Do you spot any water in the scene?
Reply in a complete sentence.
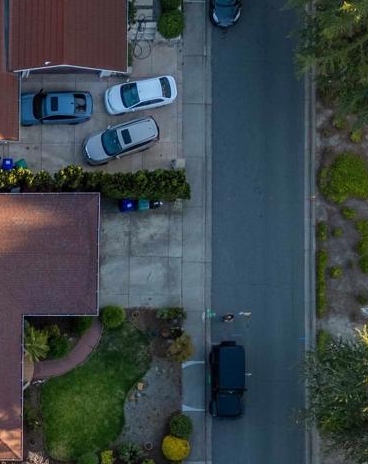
No, the scene doesn't show any water.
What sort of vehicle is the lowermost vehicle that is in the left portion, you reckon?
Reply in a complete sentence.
I'd say the lowermost vehicle that is in the left portion is a car.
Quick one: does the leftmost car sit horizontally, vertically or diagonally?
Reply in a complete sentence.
Seen from above, the leftmost car lies horizontally.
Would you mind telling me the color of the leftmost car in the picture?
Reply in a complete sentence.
From above, the leftmost car appears blue.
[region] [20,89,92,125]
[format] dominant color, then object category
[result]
blue car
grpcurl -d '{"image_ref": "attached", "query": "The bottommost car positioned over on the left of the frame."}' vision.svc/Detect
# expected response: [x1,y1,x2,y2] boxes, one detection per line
[84,116,163,165]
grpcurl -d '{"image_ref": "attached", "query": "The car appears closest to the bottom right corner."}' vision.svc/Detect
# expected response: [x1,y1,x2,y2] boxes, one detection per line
[209,342,248,417]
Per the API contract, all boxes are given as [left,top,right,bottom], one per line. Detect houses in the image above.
[0,0,129,141]
[0,192,101,461]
